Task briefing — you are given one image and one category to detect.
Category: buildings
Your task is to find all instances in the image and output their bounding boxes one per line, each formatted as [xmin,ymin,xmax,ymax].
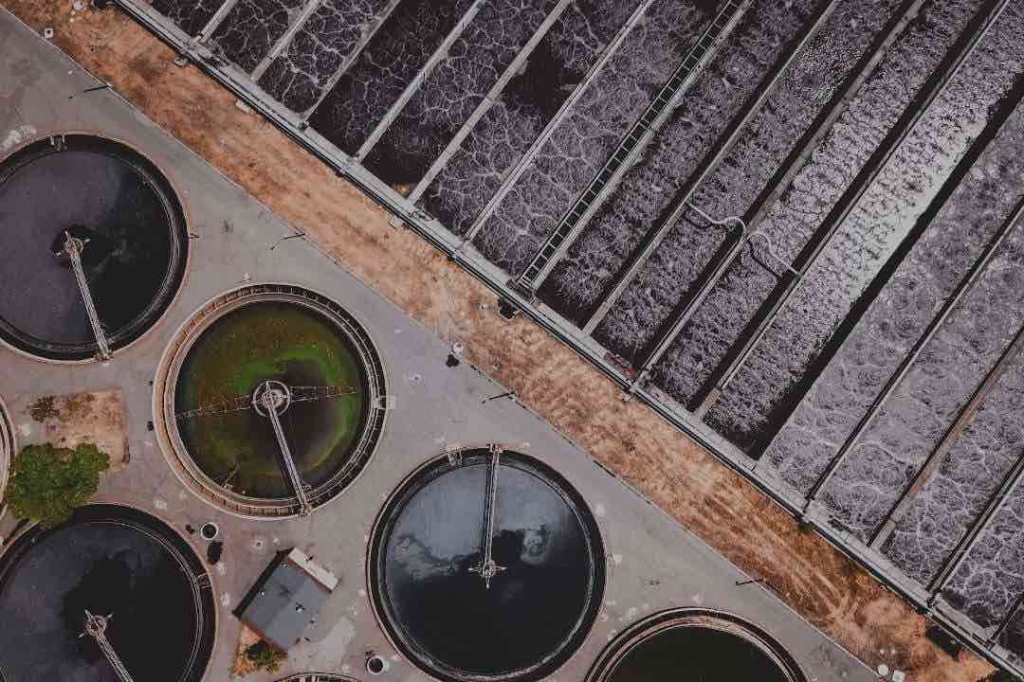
[239,546,340,651]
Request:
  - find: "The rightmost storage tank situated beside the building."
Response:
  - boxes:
[367,445,606,682]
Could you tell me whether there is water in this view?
Yes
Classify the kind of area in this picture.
industrial area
